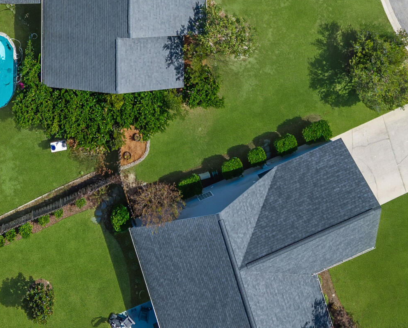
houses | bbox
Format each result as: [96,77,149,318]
[0,0,209,95]
[128,140,381,328]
